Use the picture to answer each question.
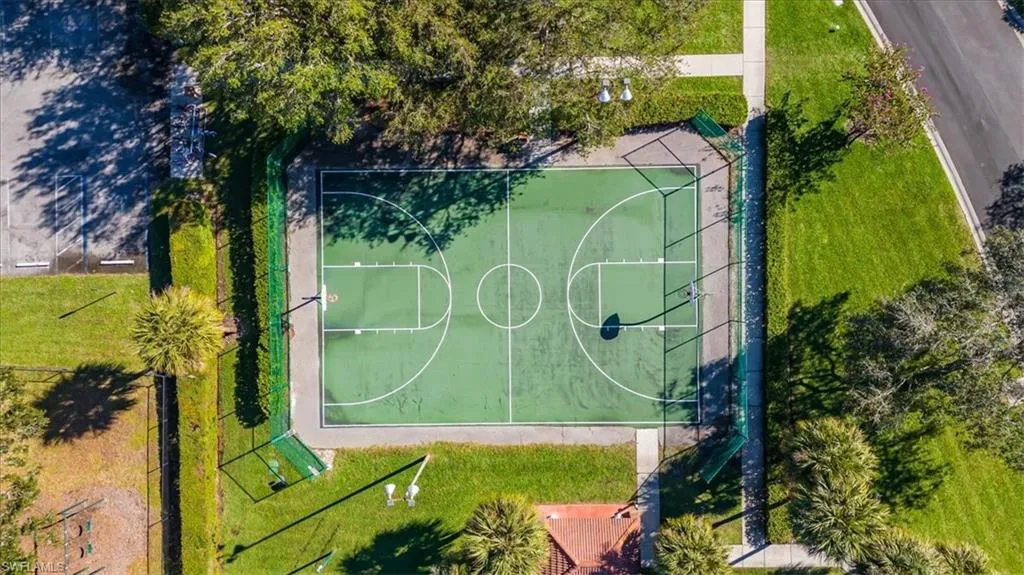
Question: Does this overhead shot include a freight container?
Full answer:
No, there is no freight container in the image.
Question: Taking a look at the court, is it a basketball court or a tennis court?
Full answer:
From above, the court can be identified as a basketball court.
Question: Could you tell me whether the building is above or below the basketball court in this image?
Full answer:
The building is located below the basketball court in this view.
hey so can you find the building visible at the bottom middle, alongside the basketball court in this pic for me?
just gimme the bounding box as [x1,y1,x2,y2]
[535,502,644,575]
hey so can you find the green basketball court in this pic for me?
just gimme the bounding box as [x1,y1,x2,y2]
[289,129,730,449]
